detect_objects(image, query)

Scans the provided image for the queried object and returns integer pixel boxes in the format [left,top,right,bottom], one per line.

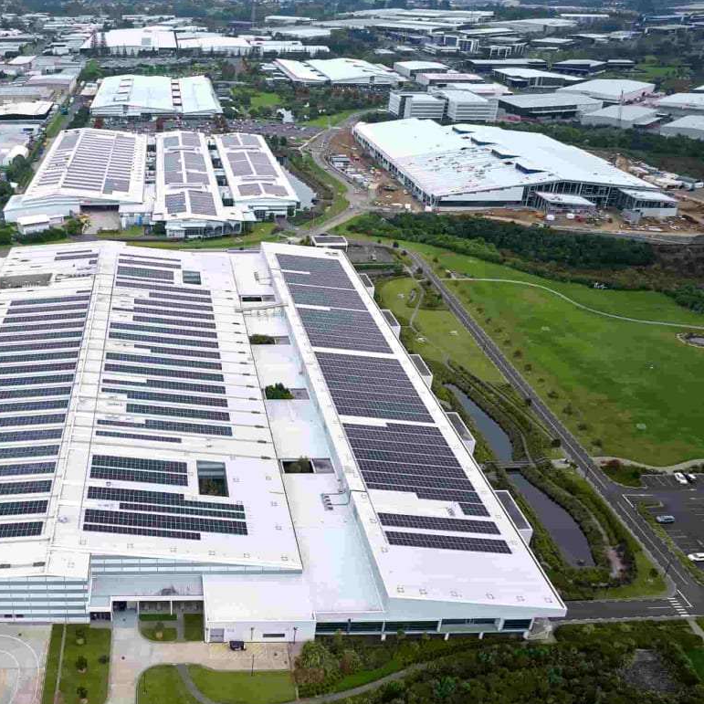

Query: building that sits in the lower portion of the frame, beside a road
[0,241,565,645]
